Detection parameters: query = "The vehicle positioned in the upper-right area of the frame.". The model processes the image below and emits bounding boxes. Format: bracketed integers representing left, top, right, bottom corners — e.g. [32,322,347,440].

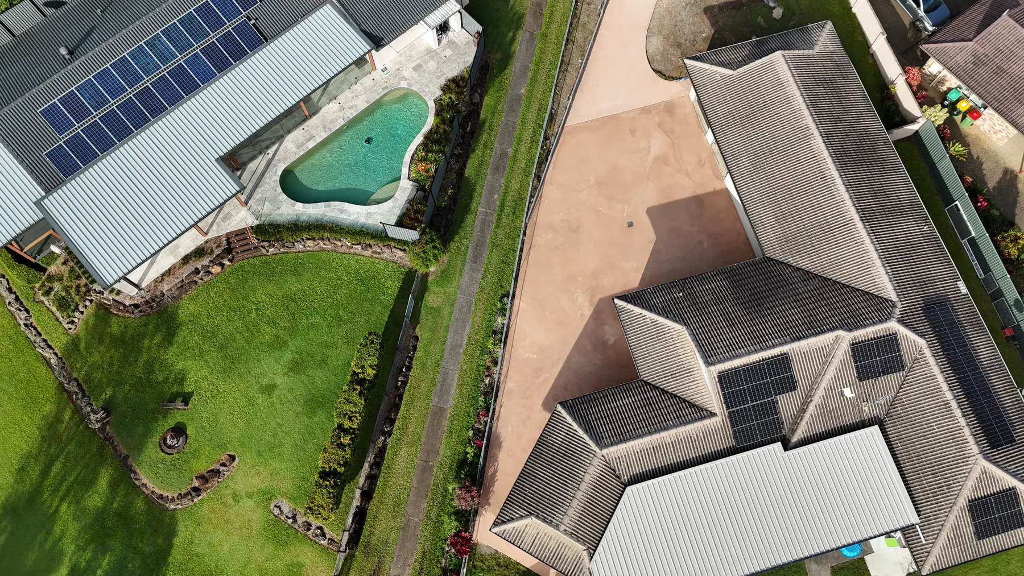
[890,0,949,38]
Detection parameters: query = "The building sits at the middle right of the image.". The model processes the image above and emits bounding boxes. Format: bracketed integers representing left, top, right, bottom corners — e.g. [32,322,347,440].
[490,19,1024,576]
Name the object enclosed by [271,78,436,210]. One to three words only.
swimming pool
